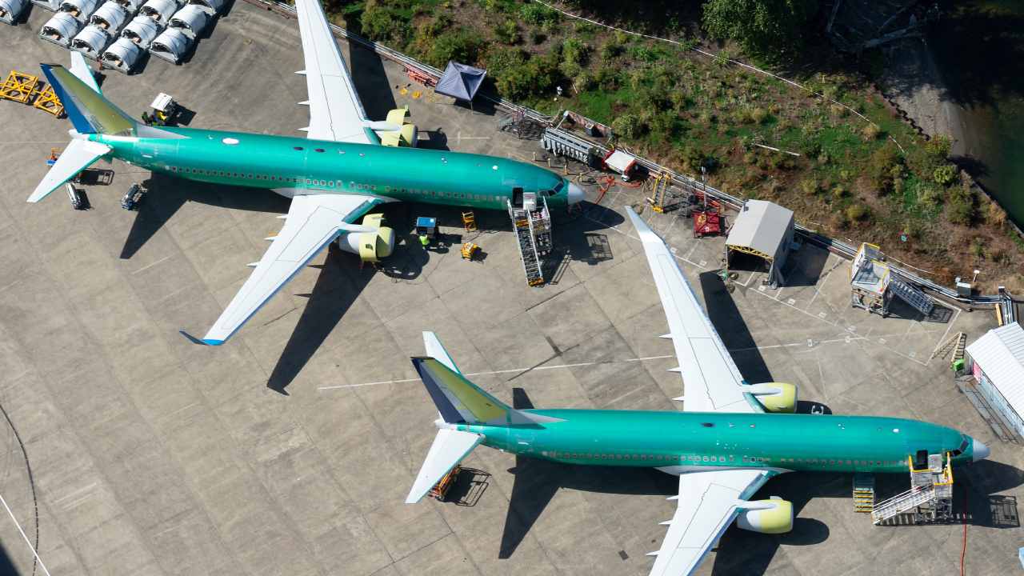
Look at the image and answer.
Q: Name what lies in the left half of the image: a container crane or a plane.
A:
plane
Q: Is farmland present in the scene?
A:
No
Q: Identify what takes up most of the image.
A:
paved ground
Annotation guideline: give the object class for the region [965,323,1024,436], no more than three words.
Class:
building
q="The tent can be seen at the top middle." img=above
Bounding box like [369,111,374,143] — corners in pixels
[434,61,489,119]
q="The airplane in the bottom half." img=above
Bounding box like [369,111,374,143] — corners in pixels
[406,206,990,576]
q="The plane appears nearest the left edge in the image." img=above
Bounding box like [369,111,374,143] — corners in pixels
[28,0,584,349]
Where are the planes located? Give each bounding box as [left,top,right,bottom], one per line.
[28,0,584,349]
[406,206,990,576]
